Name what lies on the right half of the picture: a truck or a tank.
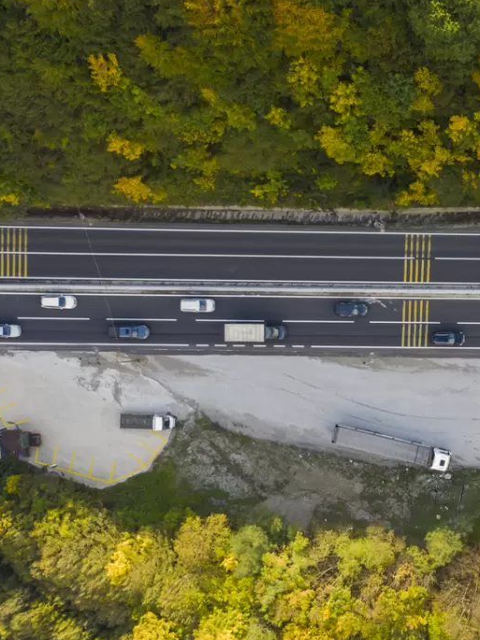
truck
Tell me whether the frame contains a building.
No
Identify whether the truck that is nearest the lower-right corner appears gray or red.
gray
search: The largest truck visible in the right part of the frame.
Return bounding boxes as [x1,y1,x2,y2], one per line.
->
[329,425,453,472]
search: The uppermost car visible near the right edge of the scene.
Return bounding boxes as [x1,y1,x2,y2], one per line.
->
[432,331,465,346]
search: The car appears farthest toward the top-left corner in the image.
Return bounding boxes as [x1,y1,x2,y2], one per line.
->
[40,295,76,310]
